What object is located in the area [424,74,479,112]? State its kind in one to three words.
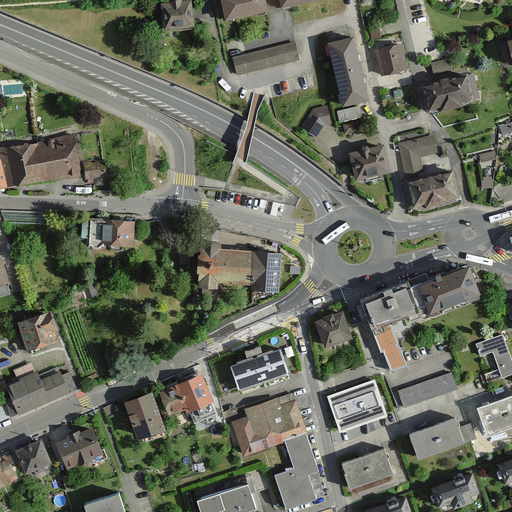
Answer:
house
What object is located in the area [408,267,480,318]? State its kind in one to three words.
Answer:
building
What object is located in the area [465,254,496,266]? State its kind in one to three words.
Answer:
vehicle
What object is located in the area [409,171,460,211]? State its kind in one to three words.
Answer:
house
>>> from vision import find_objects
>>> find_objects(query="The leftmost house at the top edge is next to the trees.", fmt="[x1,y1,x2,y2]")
[160,0,194,30]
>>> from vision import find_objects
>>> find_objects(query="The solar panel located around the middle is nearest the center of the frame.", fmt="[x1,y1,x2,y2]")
[266,254,282,292]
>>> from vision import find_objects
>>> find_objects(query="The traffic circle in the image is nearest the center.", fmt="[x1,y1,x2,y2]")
[338,230,372,264]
